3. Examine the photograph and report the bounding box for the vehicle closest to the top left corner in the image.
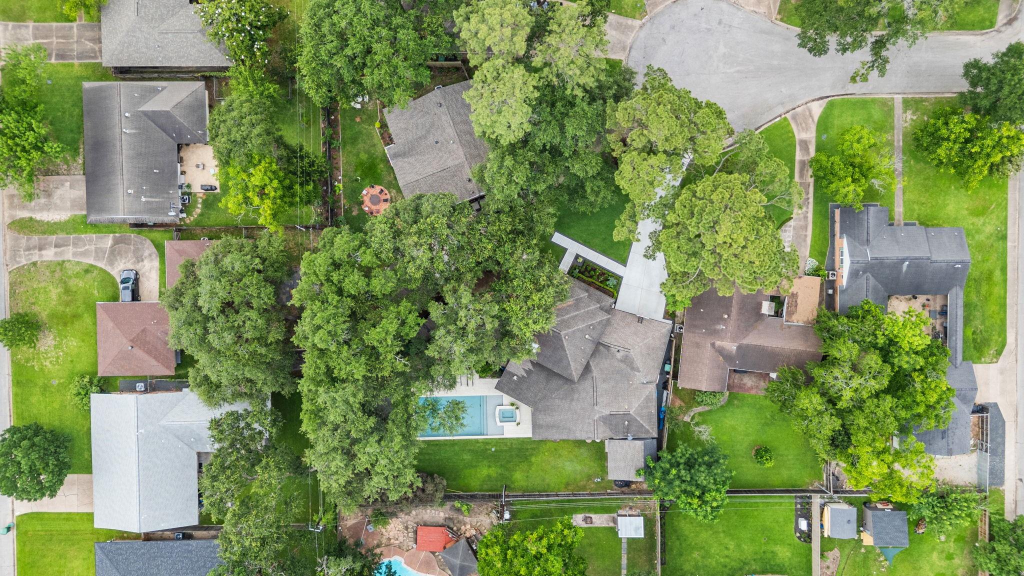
[119,270,141,301]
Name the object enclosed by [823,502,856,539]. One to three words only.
shed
